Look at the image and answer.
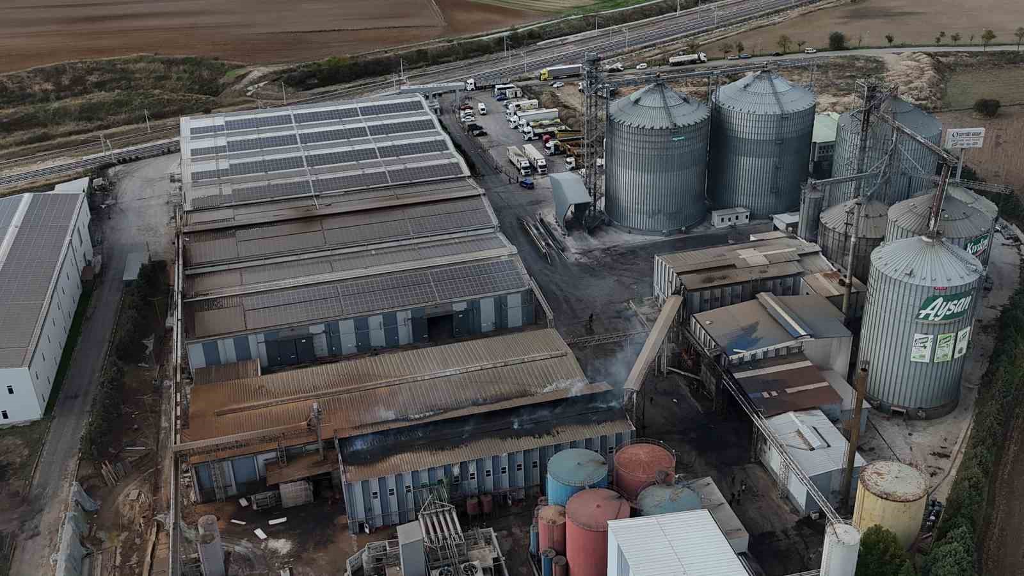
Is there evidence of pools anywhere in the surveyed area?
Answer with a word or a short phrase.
No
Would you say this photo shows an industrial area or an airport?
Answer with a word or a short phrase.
industrial area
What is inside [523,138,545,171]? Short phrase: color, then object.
white truck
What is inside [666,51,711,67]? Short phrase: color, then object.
white vehicle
